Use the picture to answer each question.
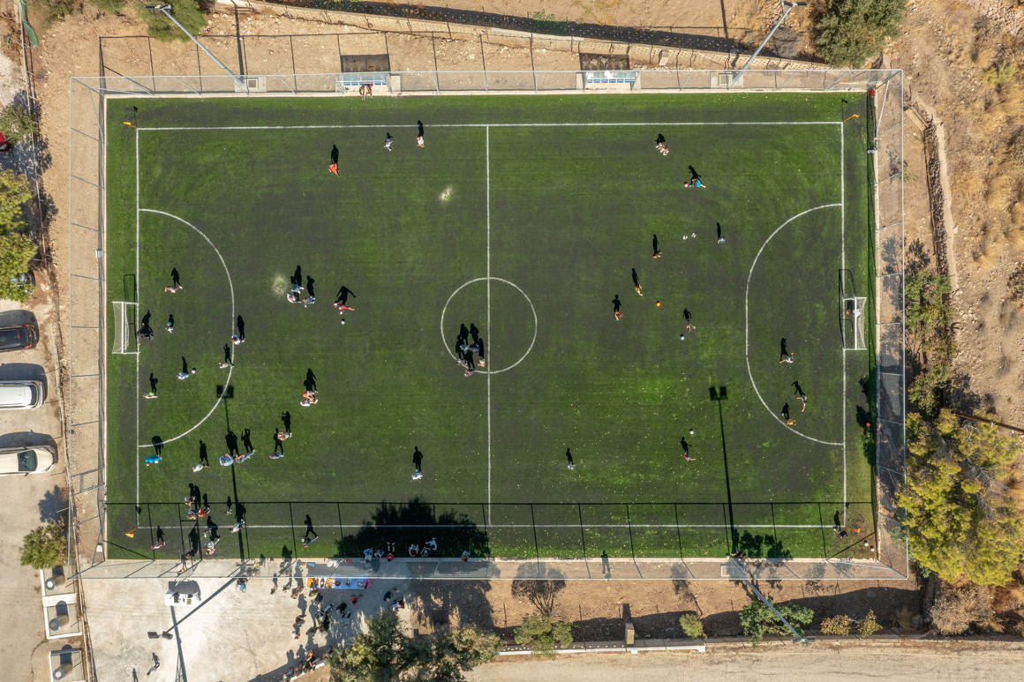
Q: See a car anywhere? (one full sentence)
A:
Yes, there is a car in the image.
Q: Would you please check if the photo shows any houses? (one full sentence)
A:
No, the scene contains no house.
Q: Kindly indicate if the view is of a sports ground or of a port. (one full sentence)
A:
The picture captures a sports ground.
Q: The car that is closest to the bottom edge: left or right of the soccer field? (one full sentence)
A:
To the left of the soccer field is where the car that is closest to the bottom edge appears.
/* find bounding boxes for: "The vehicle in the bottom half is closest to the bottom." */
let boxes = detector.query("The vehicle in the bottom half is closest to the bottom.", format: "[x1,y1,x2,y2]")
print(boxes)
[0,445,56,480]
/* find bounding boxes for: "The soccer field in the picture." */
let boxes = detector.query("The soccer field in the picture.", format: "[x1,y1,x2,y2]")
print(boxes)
[107,93,879,559]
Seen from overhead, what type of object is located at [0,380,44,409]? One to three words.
car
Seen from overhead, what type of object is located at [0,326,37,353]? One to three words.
car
